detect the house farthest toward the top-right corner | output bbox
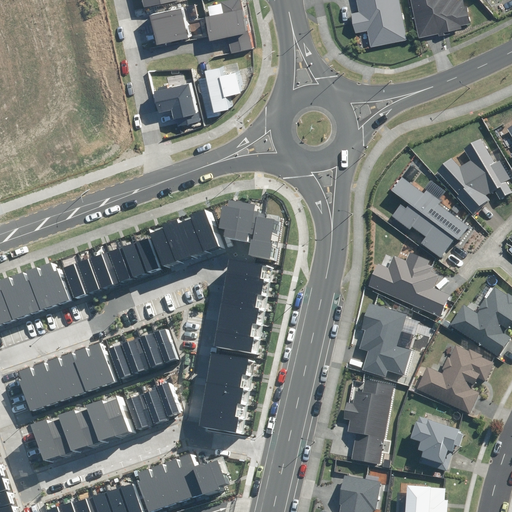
[410,0,470,38]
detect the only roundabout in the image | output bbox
[292,106,336,150]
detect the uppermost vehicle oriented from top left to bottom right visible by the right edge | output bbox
[479,204,495,222]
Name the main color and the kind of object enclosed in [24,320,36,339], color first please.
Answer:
white vehicle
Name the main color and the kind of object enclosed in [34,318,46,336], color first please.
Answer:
white vehicle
